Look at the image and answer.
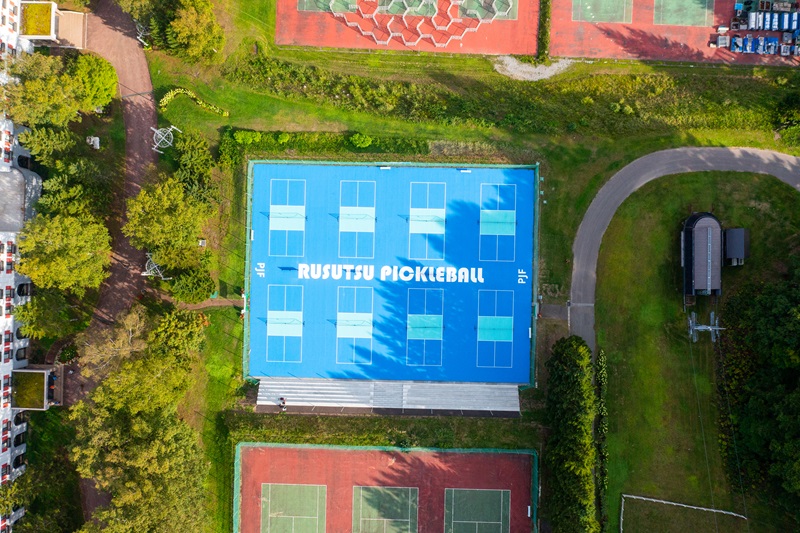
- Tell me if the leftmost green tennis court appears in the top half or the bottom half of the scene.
bottom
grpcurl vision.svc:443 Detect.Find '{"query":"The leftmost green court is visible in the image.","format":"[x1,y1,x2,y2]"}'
[260,484,325,533]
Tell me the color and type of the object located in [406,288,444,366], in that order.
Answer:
blue sports court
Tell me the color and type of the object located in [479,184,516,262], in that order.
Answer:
blue sports court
